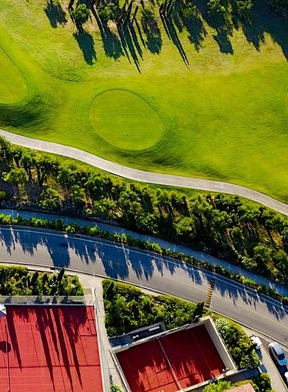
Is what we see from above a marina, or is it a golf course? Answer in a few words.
golf course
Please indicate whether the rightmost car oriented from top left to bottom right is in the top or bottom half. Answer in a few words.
bottom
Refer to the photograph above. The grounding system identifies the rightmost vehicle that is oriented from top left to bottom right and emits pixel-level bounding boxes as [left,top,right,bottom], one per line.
[266,340,288,367]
